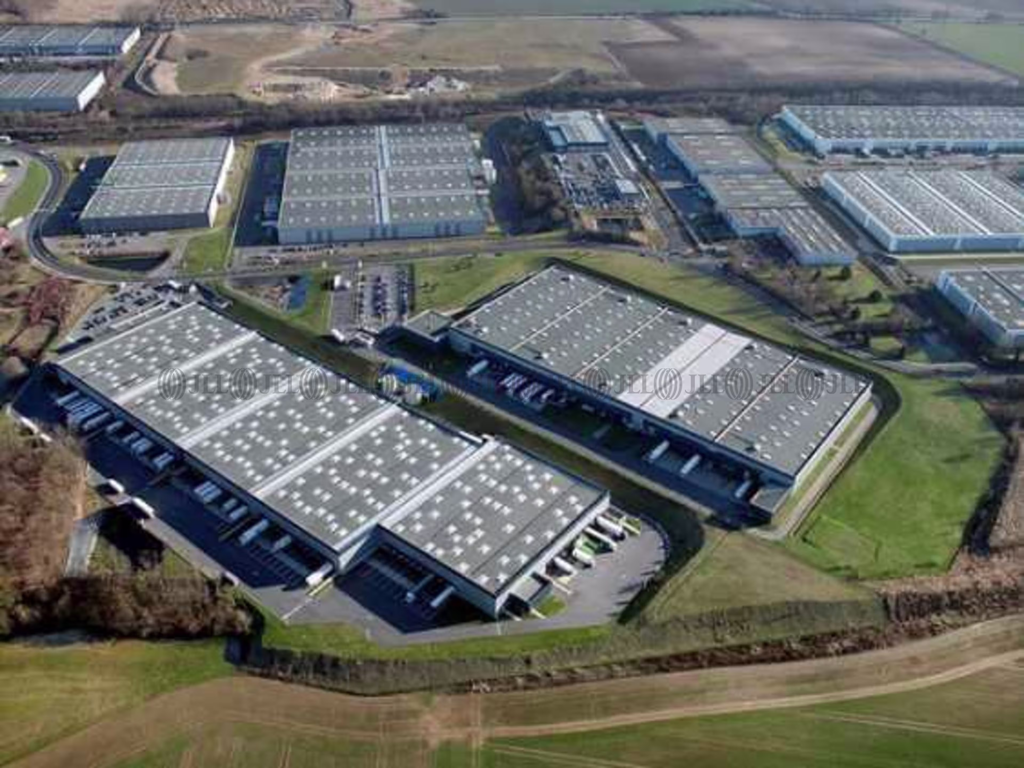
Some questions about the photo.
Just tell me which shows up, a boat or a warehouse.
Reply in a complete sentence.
It is a warehouse that can be seen here.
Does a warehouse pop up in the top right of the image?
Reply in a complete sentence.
Yes, I can see a warehouse in the top right of the image.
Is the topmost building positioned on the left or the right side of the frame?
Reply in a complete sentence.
The topmost building is on the left side of the image.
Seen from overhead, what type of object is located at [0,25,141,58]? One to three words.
building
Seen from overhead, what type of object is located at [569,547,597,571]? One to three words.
truck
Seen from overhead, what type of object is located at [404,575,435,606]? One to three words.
truck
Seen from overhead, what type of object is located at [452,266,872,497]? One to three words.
warehouse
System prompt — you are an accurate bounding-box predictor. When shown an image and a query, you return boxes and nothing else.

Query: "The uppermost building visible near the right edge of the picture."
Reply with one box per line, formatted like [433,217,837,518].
[785,106,1024,153]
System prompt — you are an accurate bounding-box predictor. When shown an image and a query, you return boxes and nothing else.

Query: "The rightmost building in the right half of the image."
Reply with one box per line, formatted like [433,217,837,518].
[942,269,1024,352]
